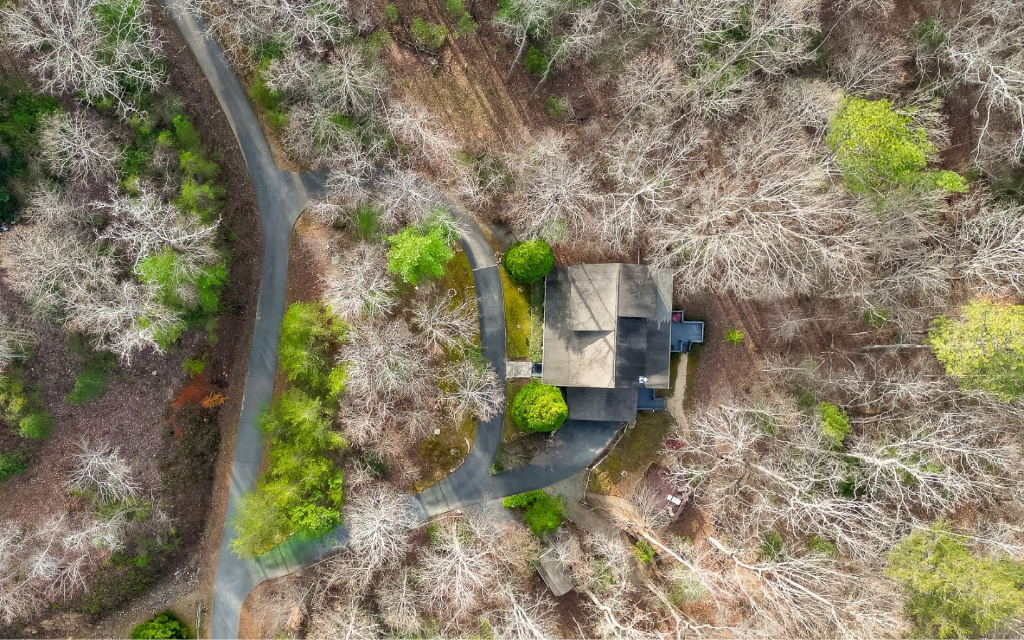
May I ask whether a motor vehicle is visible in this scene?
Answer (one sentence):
No, there's no motor vehicle here.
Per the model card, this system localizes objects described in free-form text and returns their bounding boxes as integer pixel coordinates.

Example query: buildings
[540,540,585,594]
[537,260,672,421]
